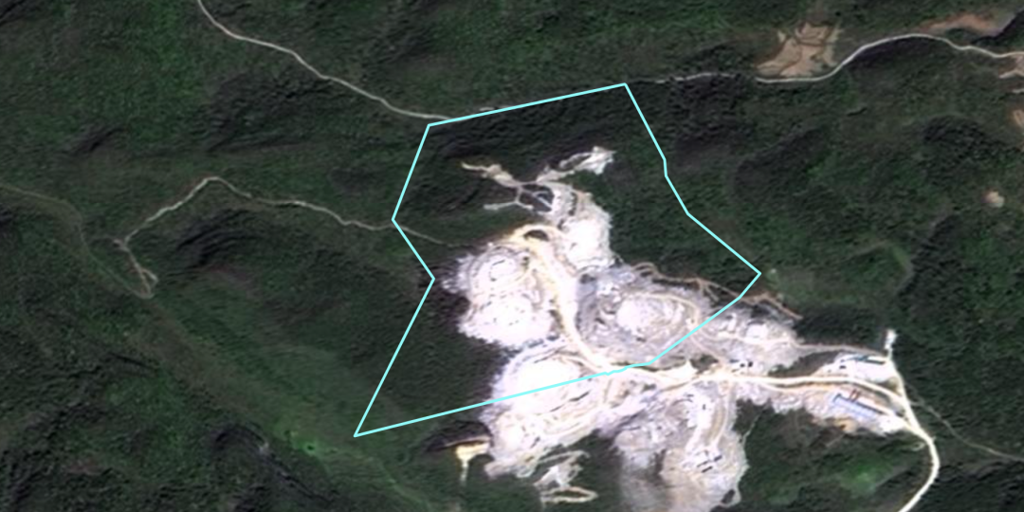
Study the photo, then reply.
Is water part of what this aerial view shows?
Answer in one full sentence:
No, there is no water in the image.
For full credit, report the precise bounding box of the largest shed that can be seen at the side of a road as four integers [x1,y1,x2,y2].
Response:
[836,395,880,420]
